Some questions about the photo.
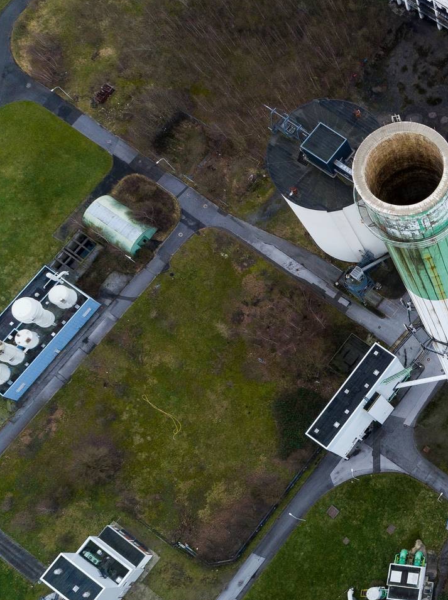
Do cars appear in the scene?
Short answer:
No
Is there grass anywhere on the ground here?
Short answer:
Yes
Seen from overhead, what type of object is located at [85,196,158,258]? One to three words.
hangar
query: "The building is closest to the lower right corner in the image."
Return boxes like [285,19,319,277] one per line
[387,563,424,600]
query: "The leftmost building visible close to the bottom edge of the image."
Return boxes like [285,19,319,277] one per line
[40,527,166,600]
